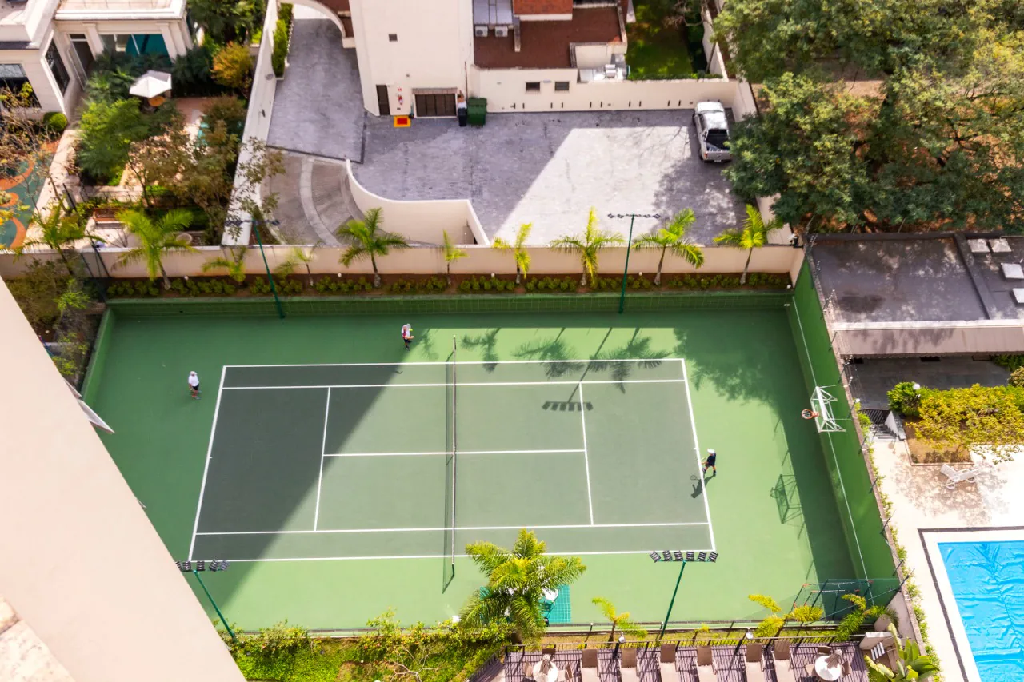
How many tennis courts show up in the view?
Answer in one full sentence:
Only 1 tennis court is visible.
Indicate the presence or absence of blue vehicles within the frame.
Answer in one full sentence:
No, there's no blue vehicle here.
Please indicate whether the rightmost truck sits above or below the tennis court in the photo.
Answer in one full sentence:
Relative to the tennis court, the rightmost truck lies above it.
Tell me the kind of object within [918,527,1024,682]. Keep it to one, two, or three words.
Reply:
swimming pool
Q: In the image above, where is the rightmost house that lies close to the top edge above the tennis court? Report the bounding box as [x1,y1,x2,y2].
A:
[473,0,625,114]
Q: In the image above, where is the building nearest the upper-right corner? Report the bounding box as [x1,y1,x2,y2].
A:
[806,227,1024,353]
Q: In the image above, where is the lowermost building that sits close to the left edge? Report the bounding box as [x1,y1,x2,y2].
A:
[0,260,234,682]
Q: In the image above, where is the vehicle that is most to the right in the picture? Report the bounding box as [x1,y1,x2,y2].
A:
[692,102,737,164]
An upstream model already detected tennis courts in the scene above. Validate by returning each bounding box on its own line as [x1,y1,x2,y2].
[85,306,858,643]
